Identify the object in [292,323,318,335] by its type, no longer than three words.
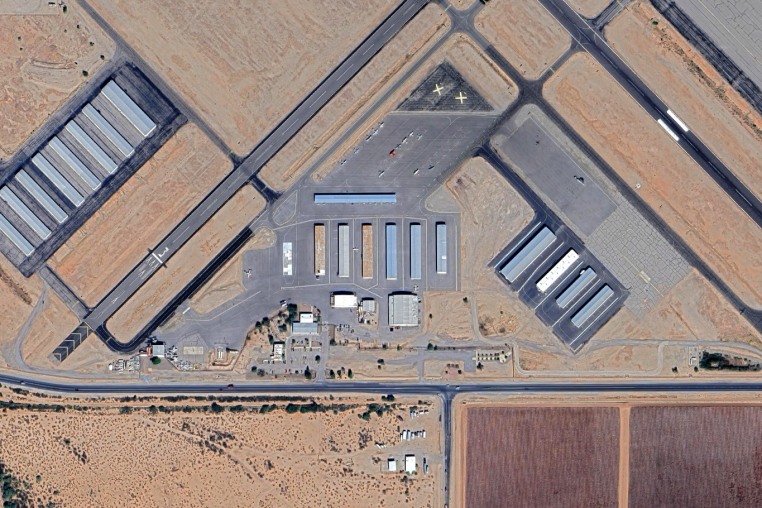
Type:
building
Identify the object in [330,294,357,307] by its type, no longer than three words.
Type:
hangar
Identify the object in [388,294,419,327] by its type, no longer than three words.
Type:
hangar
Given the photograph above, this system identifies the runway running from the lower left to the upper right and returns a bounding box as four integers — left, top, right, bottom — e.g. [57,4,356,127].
[82,0,426,332]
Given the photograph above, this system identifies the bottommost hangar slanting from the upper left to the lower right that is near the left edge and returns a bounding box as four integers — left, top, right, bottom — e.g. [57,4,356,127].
[0,215,35,257]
